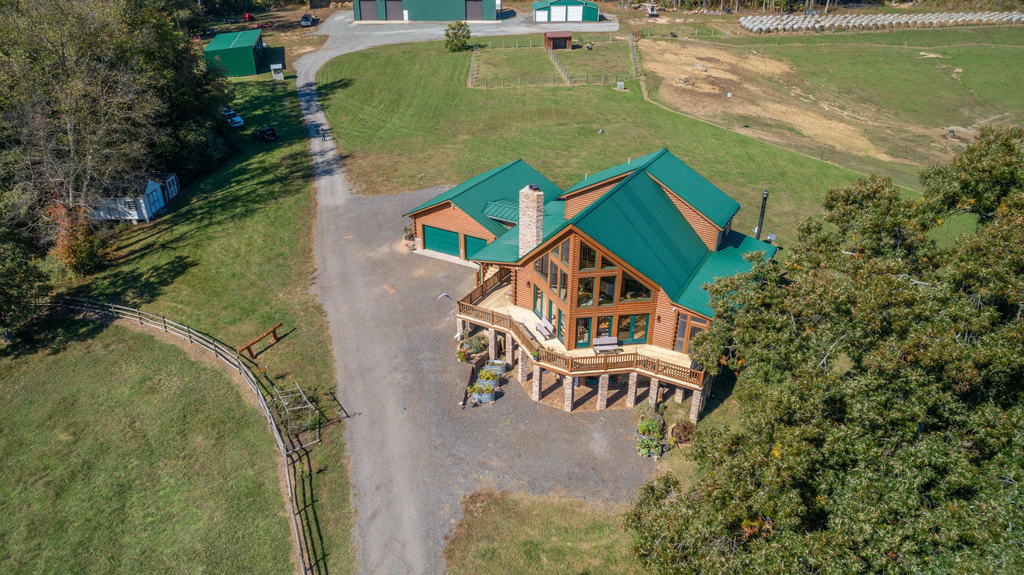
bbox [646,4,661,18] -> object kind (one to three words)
work vehicle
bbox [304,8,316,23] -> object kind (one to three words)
vehicle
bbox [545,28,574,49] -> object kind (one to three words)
shed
